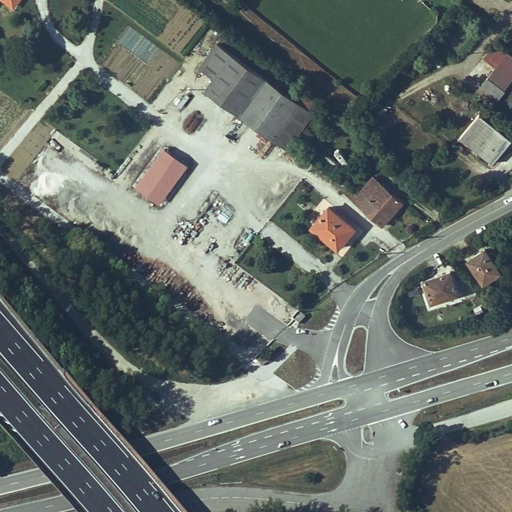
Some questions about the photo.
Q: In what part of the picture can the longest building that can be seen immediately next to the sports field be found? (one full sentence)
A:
Look in the top portion of the view to spot the longest building that can be seen immediately next to the sports field.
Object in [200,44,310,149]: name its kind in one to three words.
building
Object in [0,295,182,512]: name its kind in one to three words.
bridge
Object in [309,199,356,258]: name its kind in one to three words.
house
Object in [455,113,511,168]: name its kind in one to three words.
shed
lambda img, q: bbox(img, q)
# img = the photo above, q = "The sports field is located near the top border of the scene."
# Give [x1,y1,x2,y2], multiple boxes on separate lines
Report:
[252,0,436,95]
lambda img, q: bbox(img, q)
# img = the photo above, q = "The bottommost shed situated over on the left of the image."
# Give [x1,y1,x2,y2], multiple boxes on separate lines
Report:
[134,149,188,206]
